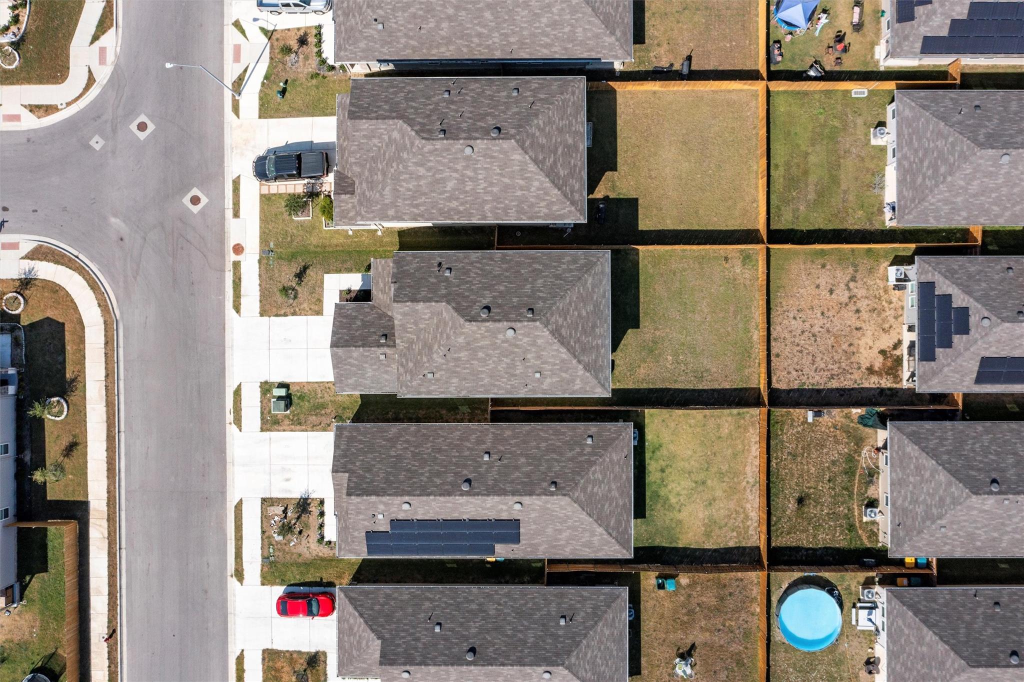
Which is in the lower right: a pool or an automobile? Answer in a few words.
pool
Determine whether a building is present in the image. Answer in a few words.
Yes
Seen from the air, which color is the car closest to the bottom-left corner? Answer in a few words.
red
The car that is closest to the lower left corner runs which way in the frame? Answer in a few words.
from left to right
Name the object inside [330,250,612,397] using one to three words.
house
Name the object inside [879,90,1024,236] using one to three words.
house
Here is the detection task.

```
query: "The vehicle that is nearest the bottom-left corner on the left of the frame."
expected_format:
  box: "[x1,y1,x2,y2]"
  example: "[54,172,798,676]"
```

[276,592,336,622]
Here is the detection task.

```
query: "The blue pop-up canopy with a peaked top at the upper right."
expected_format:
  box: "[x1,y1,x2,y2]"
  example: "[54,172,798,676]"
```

[768,0,818,42]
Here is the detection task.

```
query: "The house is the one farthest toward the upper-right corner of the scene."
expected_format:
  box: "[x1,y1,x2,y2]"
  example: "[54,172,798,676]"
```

[870,0,1024,80]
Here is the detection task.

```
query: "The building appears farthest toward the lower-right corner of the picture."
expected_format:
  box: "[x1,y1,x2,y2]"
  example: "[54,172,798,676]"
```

[874,583,1024,682]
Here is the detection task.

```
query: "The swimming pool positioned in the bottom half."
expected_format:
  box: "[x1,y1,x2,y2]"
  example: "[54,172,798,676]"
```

[771,582,843,652]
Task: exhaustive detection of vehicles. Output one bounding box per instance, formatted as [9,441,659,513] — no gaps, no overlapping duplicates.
[249,149,332,184]
[276,592,336,622]
[256,0,331,13]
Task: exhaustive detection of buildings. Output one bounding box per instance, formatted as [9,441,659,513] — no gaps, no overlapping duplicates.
[879,90,1024,236]
[330,250,612,397]
[0,367,35,613]
[336,581,627,682]
[902,256,1024,392]
[877,421,1024,557]
[331,76,586,243]
[329,423,634,558]
[874,583,1024,682]
[331,0,633,82]
[870,0,1024,80]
